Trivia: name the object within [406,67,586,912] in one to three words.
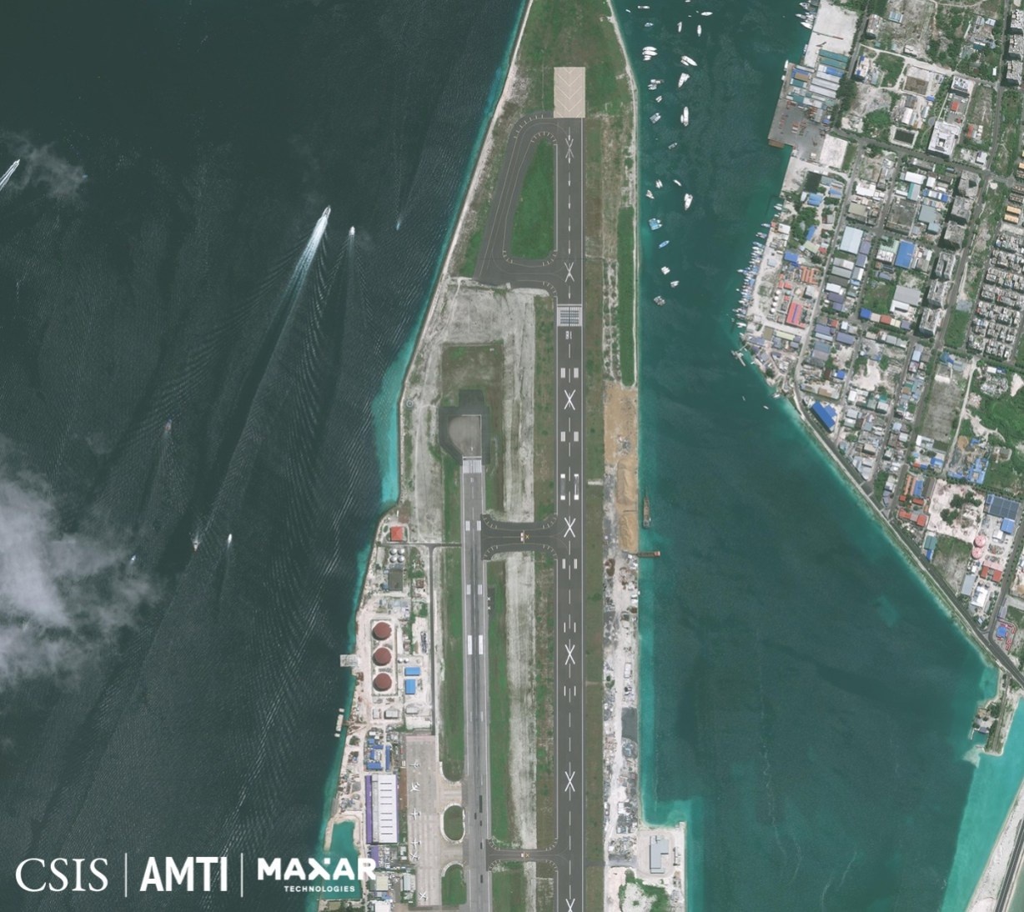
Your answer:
airport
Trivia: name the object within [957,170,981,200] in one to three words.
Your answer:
building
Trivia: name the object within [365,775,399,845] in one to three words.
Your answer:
hangar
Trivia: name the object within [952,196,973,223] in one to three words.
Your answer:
building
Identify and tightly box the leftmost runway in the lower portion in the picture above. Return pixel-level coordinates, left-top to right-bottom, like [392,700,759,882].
[460,457,493,912]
